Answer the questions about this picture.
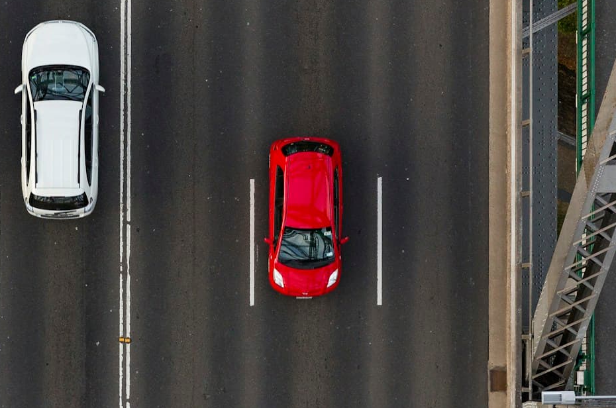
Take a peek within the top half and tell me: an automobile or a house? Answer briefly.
automobile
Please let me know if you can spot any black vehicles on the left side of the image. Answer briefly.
No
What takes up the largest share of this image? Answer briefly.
paved ground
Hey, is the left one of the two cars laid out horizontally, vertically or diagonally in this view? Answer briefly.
vertically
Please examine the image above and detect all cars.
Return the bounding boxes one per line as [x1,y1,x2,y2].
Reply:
[13,21,105,218]
[262,137,348,297]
